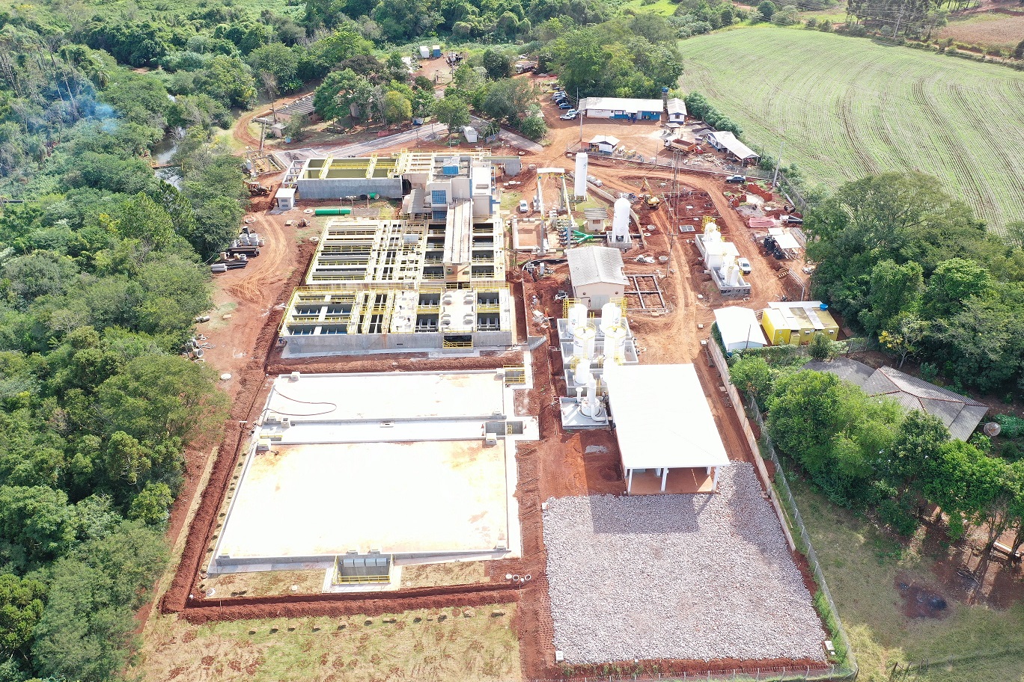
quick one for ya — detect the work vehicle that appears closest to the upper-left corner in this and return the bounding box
[239,180,274,195]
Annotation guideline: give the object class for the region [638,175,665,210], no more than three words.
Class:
work vehicle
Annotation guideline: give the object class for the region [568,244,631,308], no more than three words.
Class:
building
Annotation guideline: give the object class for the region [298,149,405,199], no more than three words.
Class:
storage tank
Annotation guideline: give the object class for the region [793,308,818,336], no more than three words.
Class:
shipping container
